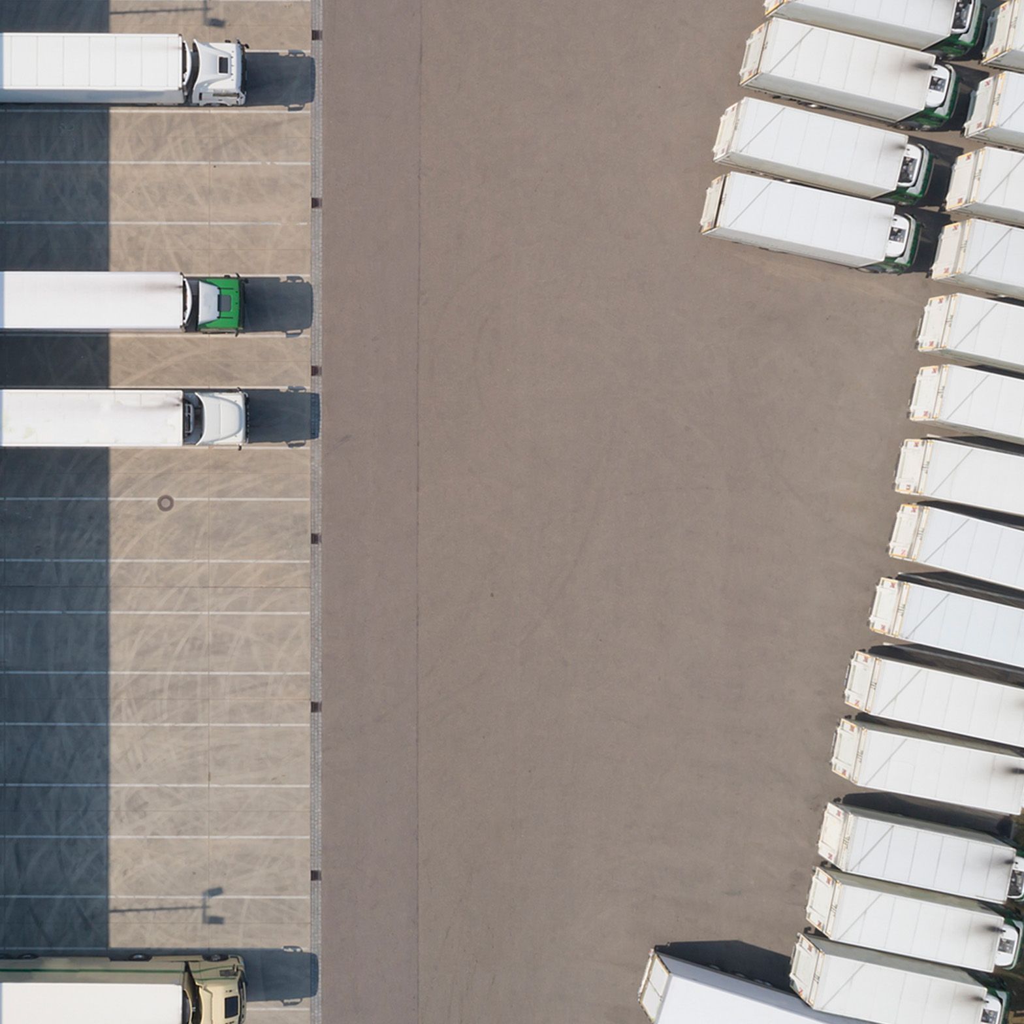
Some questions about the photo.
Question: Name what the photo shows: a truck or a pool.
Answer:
truck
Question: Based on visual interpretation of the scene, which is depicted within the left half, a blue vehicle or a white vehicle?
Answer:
white vehicle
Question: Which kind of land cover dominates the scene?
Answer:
paved ground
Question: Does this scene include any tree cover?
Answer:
No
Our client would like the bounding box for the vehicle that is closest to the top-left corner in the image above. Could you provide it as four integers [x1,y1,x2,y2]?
[0,33,249,108]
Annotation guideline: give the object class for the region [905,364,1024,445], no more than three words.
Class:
truck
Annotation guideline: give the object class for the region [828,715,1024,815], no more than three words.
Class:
truck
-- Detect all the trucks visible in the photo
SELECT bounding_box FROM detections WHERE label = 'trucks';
[976,0,1024,73]
[841,648,1024,747]
[0,952,249,1024]
[927,218,1024,300]
[763,0,991,62]
[885,502,1024,589]
[737,18,964,134]
[803,864,1024,974]
[697,172,924,279]
[942,146,1024,229]
[0,33,249,108]
[914,293,1024,376]
[787,931,1016,1024]
[828,715,1024,815]
[867,576,1024,667]
[814,798,1024,906]
[0,386,249,451]
[905,364,1024,445]
[963,70,1024,152]
[708,97,935,211]
[0,270,249,336]
[890,438,1024,517]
